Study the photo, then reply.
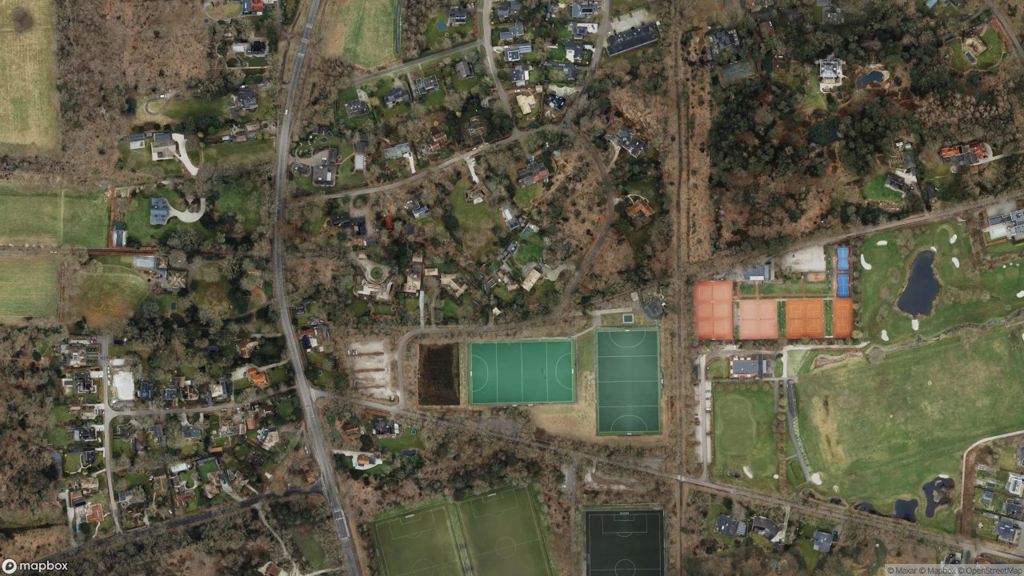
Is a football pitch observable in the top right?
No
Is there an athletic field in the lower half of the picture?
Yes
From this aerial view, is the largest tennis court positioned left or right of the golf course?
left of it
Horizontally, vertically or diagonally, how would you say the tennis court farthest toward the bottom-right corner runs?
vertically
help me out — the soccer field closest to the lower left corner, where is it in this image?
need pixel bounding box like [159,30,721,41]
[370,498,467,576]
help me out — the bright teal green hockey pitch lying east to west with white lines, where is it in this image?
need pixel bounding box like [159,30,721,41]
[468,339,576,406]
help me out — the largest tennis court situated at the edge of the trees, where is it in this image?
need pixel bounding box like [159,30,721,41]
[694,281,733,340]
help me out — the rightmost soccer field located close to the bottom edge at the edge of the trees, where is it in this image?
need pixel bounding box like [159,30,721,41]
[586,509,664,576]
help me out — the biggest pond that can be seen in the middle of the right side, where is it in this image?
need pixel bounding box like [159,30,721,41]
[898,250,942,315]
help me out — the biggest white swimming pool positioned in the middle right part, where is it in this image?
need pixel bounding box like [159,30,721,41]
[991,225,1007,238]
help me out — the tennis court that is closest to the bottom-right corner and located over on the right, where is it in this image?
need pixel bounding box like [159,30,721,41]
[833,299,853,338]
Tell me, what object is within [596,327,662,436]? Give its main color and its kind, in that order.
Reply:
green sports field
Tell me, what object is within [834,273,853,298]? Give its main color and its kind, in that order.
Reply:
blue sports court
